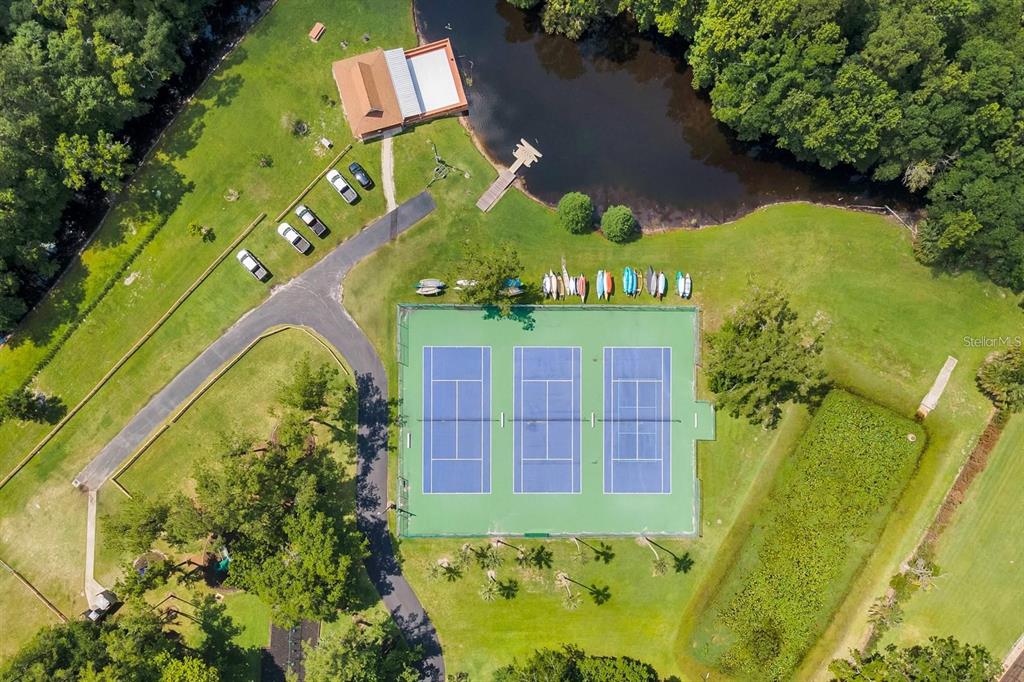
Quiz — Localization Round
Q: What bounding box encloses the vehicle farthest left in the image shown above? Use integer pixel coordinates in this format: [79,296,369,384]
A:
[236,248,267,283]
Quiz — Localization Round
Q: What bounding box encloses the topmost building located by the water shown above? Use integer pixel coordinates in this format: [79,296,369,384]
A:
[332,37,468,145]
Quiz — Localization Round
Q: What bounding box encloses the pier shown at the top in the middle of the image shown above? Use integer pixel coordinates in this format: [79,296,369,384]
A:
[476,140,541,213]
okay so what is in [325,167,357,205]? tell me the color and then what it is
white truck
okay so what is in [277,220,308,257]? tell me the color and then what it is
white truck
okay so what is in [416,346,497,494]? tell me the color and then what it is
blue tennis court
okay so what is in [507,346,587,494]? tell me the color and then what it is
blue tennis court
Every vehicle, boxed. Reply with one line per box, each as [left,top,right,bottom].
[325,167,357,205]
[295,202,326,239]
[349,161,373,189]
[236,248,267,283]
[277,220,308,257]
